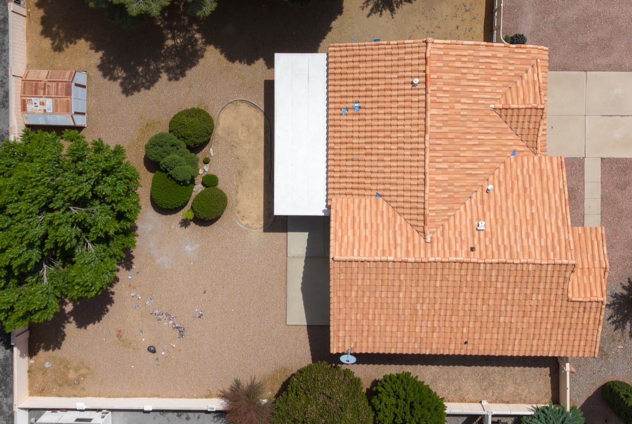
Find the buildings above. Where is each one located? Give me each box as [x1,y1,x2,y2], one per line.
[326,39,609,357]
[21,70,86,125]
